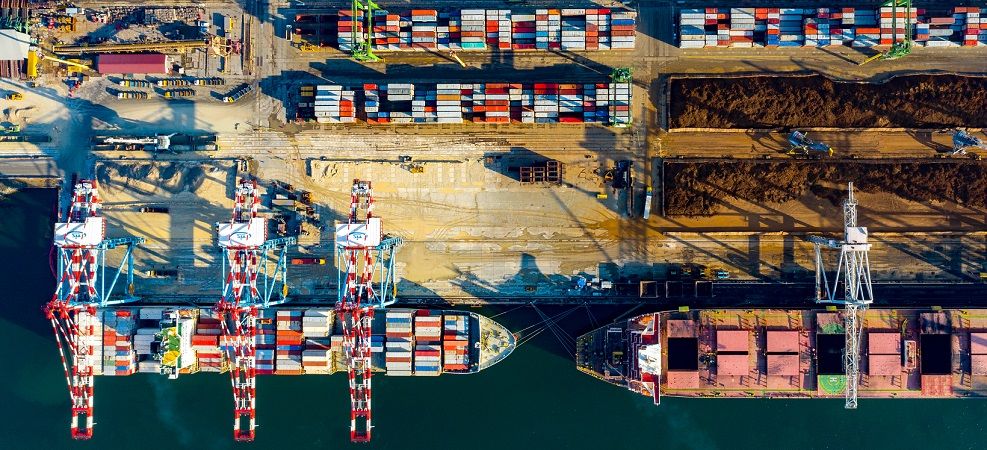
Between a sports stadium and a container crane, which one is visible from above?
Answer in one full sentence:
The image shows a container crane.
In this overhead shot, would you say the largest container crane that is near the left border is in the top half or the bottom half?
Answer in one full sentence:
The bottom half of the photo is where the largest container crane that is near the left border is.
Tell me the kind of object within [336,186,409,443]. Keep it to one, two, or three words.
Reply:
container crane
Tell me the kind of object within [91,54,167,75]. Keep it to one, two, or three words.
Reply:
shed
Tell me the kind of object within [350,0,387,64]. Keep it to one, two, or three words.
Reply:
container crane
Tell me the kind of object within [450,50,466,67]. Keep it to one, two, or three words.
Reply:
vehicle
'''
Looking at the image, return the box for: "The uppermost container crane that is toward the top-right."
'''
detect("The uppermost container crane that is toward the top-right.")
[866,0,914,64]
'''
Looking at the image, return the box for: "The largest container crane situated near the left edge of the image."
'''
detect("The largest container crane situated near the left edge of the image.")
[42,185,151,443]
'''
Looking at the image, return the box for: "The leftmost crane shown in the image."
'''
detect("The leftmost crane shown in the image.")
[25,45,89,78]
